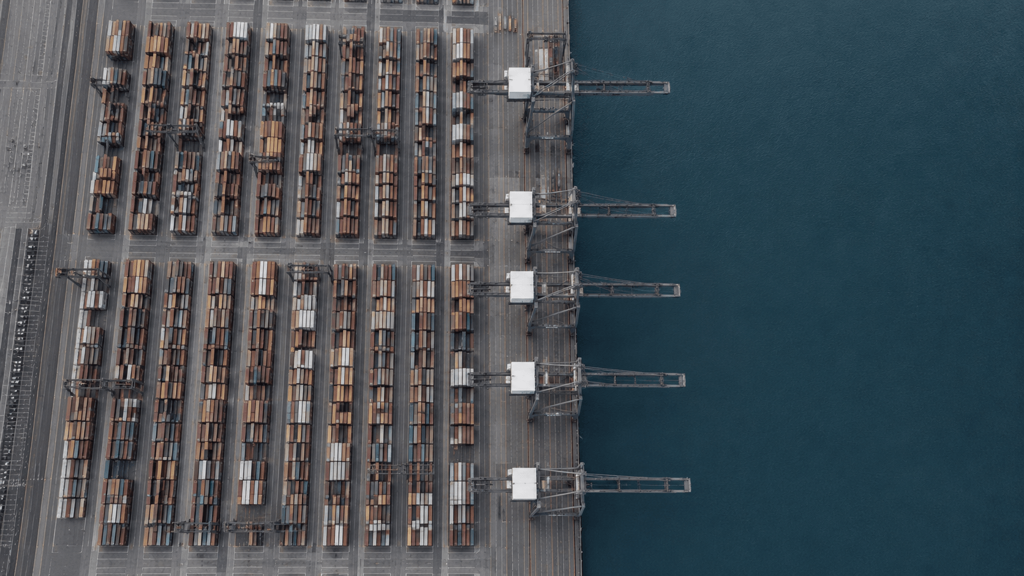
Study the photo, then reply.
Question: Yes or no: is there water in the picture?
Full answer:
Yes, there is water in the image.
